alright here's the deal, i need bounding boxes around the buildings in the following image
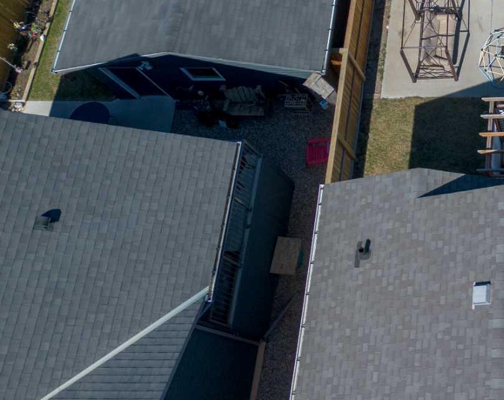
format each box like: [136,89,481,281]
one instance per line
[52,0,350,103]
[0,110,289,400]
[291,167,504,400]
